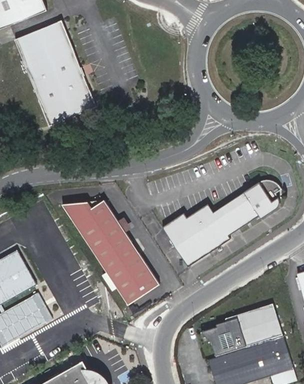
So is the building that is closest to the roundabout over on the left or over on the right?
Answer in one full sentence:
It is on the right.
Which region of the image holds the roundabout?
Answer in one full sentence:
The roundabout is in the top right part of the image.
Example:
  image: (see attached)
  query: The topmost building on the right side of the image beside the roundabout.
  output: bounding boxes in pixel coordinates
[162,180,282,266]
